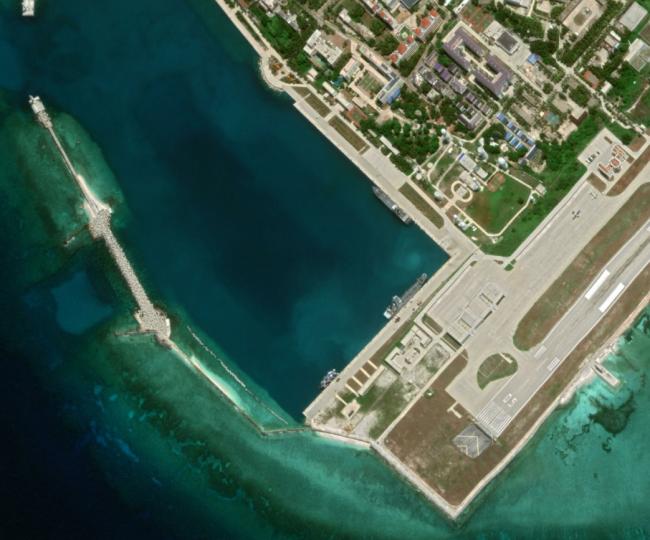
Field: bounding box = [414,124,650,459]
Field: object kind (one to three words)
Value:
airport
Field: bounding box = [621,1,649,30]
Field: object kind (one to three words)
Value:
building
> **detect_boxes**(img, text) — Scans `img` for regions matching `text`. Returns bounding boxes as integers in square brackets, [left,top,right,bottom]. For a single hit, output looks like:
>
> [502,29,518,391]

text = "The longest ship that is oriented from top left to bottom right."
[373,187,413,224]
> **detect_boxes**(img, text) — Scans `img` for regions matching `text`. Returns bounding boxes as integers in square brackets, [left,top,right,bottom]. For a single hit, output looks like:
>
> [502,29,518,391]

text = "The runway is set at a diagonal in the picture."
[476,217,650,437]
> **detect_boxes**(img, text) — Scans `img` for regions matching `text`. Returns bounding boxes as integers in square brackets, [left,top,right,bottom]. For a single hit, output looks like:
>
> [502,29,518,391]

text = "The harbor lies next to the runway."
[215,0,480,422]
